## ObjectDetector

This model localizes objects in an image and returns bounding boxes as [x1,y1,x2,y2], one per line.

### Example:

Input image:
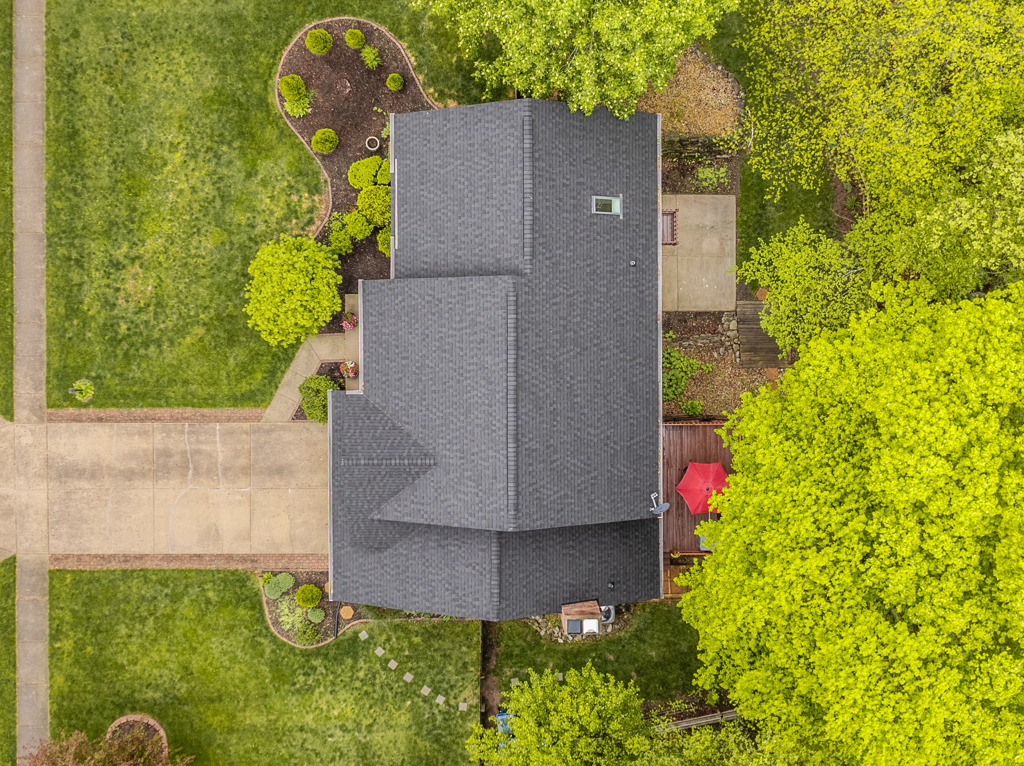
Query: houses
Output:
[329,98,663,635]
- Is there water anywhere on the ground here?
No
